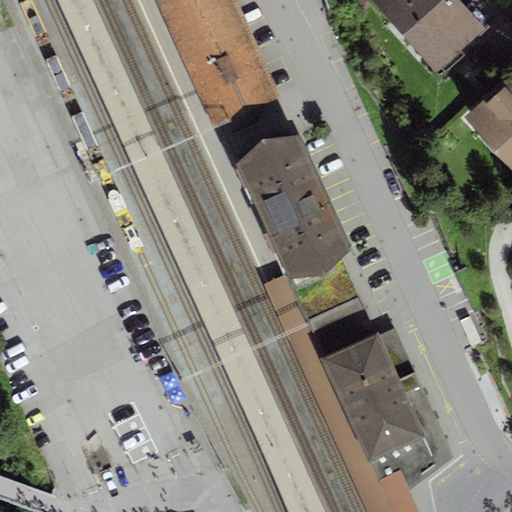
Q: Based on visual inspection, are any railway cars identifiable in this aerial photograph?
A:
Yes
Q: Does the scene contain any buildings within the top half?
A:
Yes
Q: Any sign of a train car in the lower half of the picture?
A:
No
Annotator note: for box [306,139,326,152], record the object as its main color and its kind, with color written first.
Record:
white vehicle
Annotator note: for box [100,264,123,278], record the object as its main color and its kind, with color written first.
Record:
blue car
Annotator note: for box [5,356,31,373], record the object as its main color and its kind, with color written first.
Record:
white car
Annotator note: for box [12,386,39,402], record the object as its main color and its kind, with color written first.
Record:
white car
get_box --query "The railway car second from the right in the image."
[44,54,76,105]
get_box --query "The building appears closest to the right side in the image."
[465,74,512,168]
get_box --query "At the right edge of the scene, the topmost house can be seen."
[374,0,488,78]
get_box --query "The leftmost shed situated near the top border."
[155,0,280,130]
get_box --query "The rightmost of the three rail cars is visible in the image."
[71,110,102,160]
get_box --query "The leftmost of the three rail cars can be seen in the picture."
[16,0,52,51]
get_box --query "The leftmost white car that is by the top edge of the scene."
[243,8,264,22]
